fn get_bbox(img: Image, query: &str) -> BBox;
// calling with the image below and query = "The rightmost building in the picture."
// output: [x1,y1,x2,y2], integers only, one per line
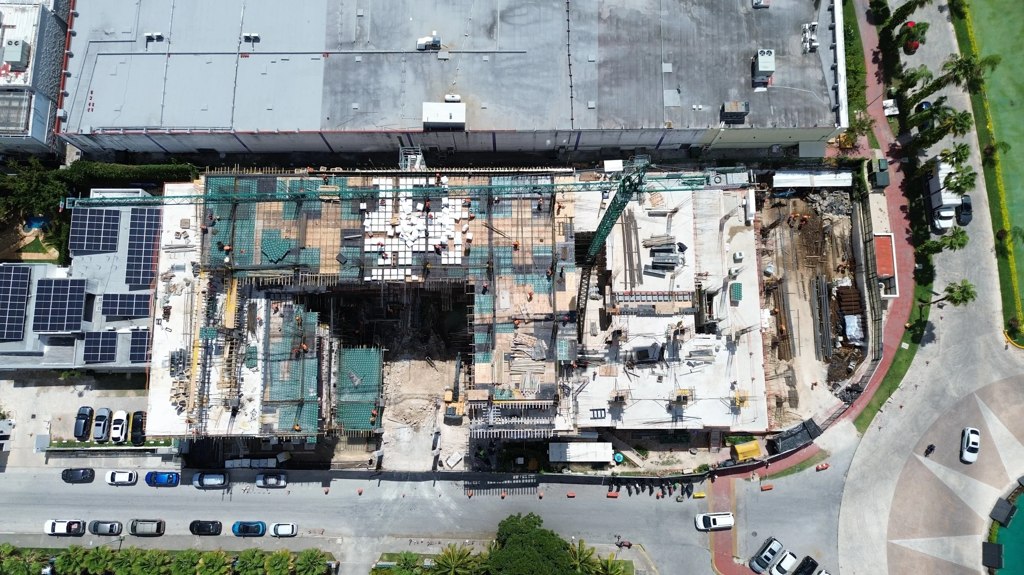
[872,232,900,299]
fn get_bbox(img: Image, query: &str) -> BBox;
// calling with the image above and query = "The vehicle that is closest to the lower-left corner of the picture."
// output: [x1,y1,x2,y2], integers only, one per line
[44,518,88,537]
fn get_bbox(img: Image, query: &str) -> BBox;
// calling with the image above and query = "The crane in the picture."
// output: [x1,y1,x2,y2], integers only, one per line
[65,151,758,270]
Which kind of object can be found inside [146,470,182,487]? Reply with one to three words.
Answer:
car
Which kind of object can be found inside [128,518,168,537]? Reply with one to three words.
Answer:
car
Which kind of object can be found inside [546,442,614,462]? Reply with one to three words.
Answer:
building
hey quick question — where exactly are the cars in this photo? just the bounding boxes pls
[106,470,140,485]
[956,196,973,226]
[109,410,133,444]
[64,467,96,484]
[128,518,168,537]
[752,536,779,574]
[815,560,835,575]
[791,551,817,575]
[73,405,98,441]
[256,472,289,488]
[90,519,124,537]
[233,520,266,538]
[270,522,298,537]
[695,512,733,531]
[194,471,230,489]
[146,470,182,487]
[771,546,794,575]
[192,519,223,536]
[91,408,116,443]
[128,410,148,446]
